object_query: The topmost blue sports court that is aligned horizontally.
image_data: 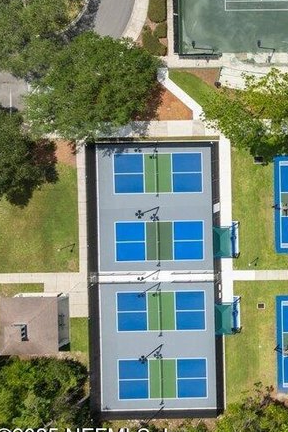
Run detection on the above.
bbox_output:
[113,152,202,194]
